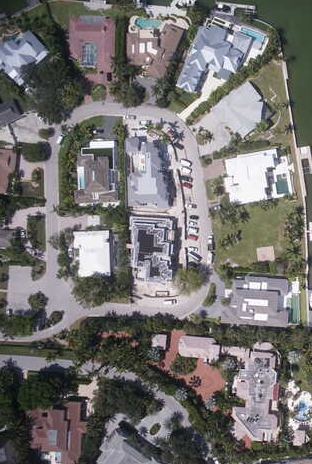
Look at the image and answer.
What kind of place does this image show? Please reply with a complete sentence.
This image shows a residential area.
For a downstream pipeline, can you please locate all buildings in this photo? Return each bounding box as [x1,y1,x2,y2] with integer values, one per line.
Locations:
[229,351,284,443]
[0,148,20,196]
[179,335,220,359]
[0,28,48,88]
[221,275,291,327]
[95,429,169,464]
[0,228,18,249]
[127,24,186,83]
[292,430,307,447]
[208,80,273,145]
[152,333,168,348]
[74,230,115,275]
[27,399,84,464]
[0,442,22,464]
[224,149,280,204]
[0,88,32,125]
[171,17,259,96]
[125,218,175,279]
[125,136,176,208]
[68,15,117,73]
